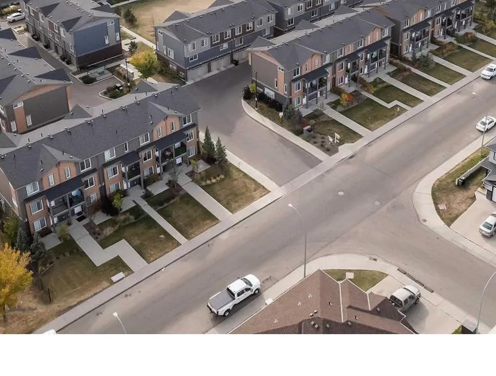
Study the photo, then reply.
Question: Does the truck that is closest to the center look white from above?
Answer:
Yes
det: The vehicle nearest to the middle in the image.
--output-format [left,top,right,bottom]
[207,271,264,316]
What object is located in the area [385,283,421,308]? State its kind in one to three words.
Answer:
truck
